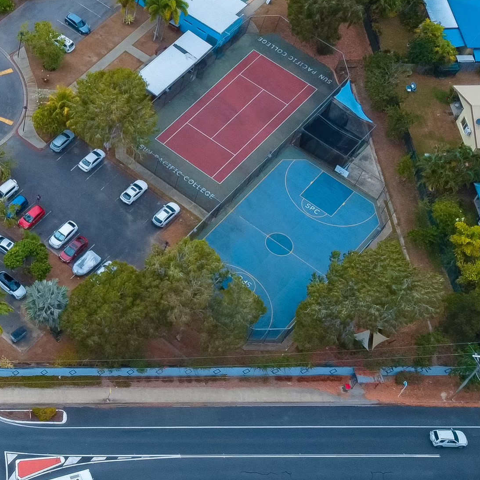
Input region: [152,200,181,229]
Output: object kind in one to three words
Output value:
car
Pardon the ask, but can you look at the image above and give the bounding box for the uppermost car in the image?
[63,10,91,36]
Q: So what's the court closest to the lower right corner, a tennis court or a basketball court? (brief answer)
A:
basketball court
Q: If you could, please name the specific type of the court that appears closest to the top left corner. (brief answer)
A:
tennis court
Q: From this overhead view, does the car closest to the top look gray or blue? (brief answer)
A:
blue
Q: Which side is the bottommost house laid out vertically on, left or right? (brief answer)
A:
right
